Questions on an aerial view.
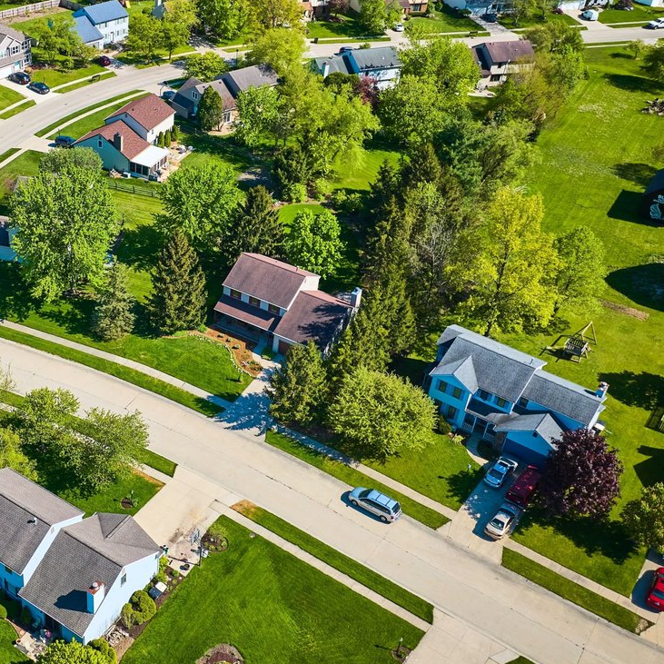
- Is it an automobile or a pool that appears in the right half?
automobile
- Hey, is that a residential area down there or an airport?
residential area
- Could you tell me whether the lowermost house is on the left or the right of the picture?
left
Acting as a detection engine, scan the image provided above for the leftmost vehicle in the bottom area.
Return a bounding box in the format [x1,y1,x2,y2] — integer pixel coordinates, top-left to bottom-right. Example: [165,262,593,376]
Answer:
[347,487,403,522]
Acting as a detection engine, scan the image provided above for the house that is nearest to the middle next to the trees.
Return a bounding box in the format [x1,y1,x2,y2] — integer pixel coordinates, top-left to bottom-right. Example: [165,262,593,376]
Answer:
[212,253,363,370]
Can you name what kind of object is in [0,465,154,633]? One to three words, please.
house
